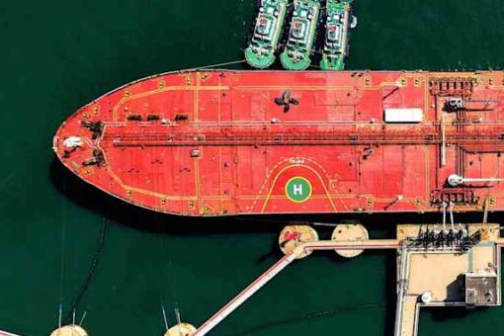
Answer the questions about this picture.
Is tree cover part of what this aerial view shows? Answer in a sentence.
No, there is no tree cover in the image.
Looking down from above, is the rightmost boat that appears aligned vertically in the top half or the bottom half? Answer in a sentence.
You can find the rightmost boat that appears aligned vertically in the top half.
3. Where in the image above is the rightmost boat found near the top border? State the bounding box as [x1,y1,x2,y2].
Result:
[319,0,351,70]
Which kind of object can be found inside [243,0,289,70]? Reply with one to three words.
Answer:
boat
